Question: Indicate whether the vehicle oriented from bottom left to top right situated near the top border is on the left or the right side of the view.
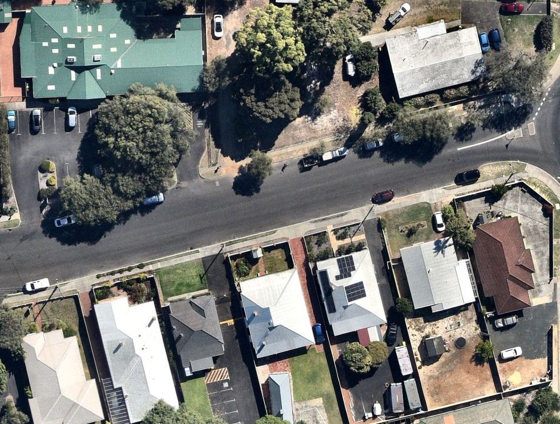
right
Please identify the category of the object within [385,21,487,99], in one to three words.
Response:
house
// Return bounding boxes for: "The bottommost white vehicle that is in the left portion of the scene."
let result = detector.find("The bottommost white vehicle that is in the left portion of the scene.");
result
[26,278,50,291]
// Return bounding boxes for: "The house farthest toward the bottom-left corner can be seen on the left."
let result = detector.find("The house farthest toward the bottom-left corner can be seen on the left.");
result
[24,329,104,424]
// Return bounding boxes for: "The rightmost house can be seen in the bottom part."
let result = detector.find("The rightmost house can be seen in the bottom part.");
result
[473,216,535,314]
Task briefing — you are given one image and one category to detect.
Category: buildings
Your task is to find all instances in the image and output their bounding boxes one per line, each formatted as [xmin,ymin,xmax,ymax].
[168,294,225,373]
[399,238,479,313]
[93,296,178,424]
[24,329,104,424]
[269,373,293,424]
[385,21,487,99]
[425,336,447,357]
[411,397,514,424]
[239,268,315,358]
[19,2,203,99]
[316,249,387,346]
[0,0,13,22]
[473,216,535,314]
